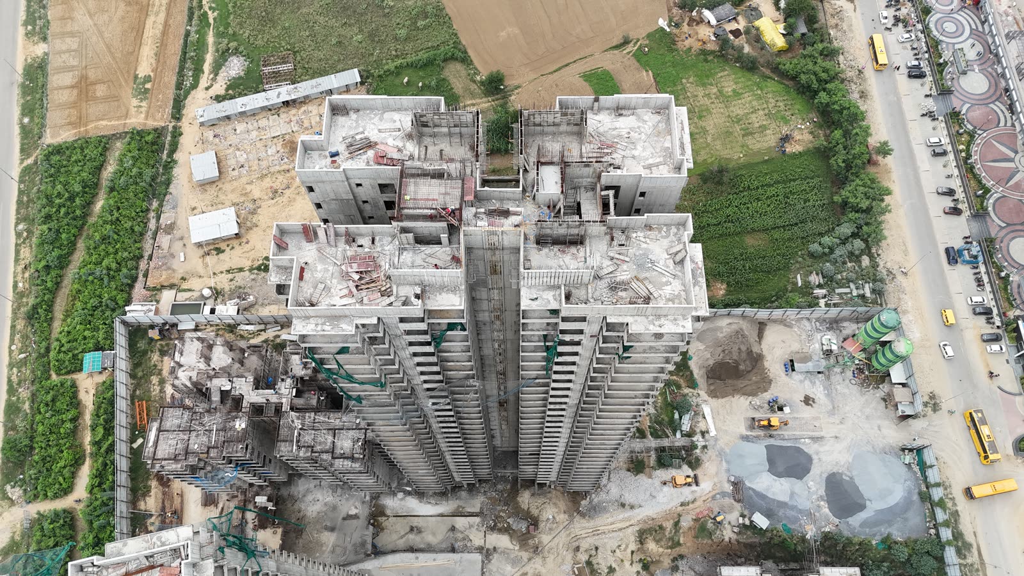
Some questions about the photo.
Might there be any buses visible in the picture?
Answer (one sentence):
Yes, there's a bus down there.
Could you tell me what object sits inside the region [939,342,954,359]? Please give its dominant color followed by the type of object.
white car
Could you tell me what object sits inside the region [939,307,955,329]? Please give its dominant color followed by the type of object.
yellow vehicle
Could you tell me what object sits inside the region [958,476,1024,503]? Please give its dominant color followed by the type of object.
yellow bus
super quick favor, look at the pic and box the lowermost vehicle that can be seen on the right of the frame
[707,511,729,527]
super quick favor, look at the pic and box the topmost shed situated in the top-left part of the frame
[197,69,362,130]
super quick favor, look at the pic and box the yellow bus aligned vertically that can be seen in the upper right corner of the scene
[869,36,889,68]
